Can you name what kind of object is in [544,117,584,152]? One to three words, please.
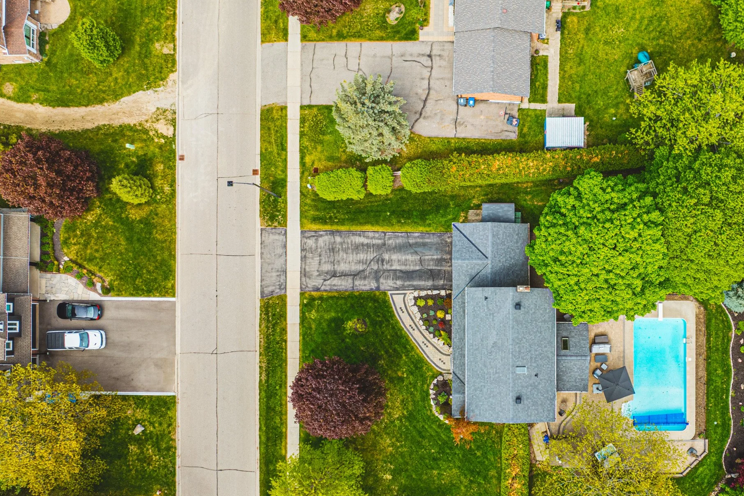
shed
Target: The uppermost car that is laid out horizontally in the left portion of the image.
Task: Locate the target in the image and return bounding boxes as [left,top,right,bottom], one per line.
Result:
[54,300,99,322]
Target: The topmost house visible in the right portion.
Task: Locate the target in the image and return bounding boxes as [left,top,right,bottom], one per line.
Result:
[450,0,547,105]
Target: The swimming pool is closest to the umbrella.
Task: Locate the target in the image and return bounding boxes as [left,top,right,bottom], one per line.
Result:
[621,318,687,433]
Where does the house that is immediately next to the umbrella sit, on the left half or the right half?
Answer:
right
